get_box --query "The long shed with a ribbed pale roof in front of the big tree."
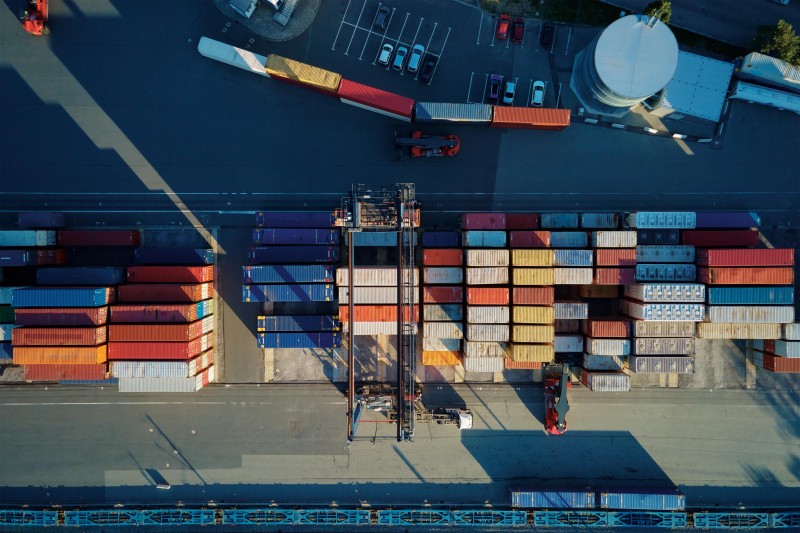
[734,52,800,95]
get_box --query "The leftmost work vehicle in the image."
[21,0,55,38]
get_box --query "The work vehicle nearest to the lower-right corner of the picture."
[542,367,573,435]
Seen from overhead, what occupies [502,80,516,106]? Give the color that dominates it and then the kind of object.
blue car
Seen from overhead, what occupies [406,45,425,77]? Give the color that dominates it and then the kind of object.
blue car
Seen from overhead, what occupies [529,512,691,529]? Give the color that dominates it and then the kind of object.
blue rail car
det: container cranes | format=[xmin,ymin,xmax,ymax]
[334,174,423,442]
